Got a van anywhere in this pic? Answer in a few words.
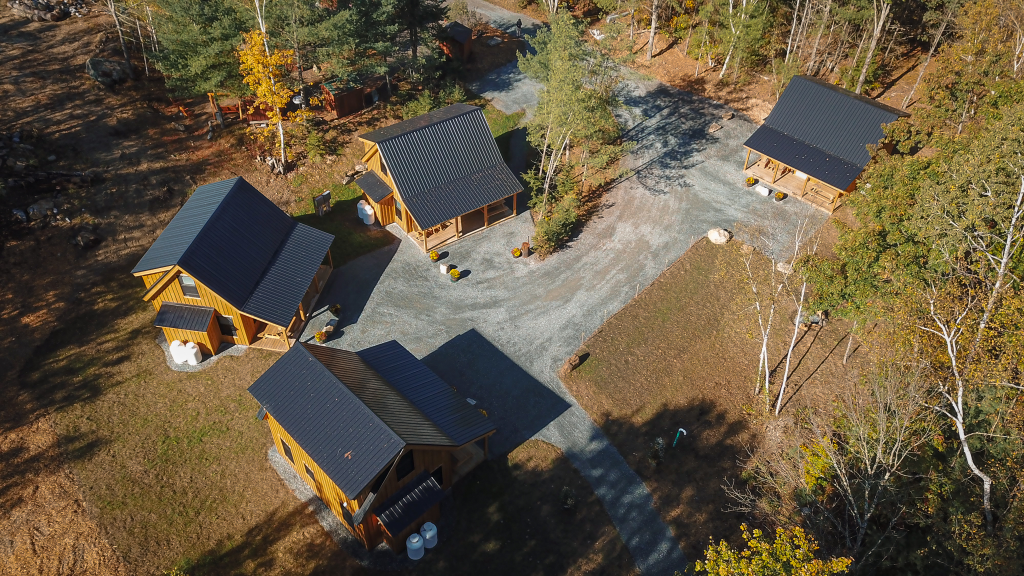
No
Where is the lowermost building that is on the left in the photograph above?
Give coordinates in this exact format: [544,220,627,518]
[248,341,497,557]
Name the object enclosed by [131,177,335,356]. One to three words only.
building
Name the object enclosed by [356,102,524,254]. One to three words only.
building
